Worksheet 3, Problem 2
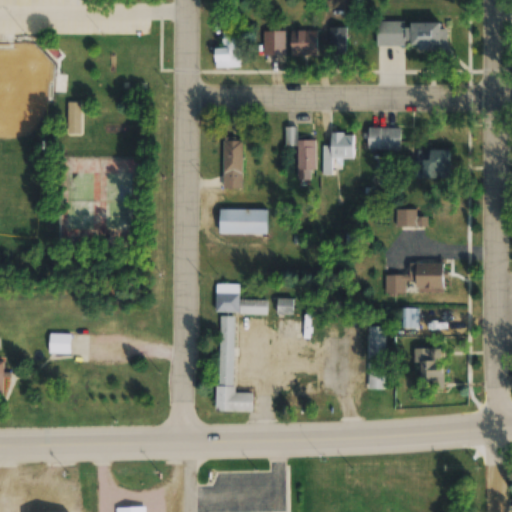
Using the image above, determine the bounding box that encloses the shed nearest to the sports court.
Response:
[68,102,84,136]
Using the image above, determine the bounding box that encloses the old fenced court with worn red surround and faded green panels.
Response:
[64,156,138,239]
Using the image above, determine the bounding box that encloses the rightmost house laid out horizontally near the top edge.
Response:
[378,22,450,50]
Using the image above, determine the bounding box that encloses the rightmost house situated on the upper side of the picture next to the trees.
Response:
[424,150,452,179]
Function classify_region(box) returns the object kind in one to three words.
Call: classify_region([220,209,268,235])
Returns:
building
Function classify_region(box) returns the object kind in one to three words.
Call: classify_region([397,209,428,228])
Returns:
building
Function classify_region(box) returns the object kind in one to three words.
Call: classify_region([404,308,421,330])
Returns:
shed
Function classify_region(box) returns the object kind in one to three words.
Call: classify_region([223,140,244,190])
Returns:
house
